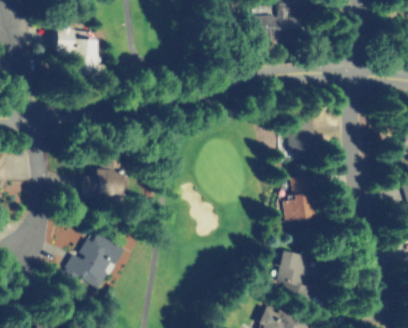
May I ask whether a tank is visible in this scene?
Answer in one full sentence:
No, the photo shows no tank.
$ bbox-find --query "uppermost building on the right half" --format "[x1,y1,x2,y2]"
[251,1,300,35]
